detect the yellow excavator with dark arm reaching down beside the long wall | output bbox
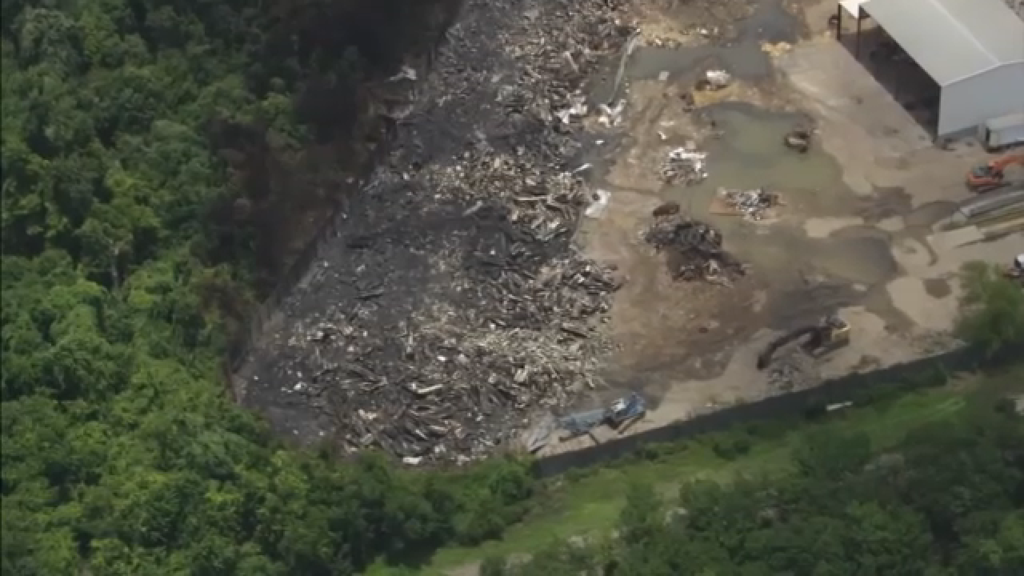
[758,319,858,369]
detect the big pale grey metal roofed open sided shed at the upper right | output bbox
[838,0,1024,141]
